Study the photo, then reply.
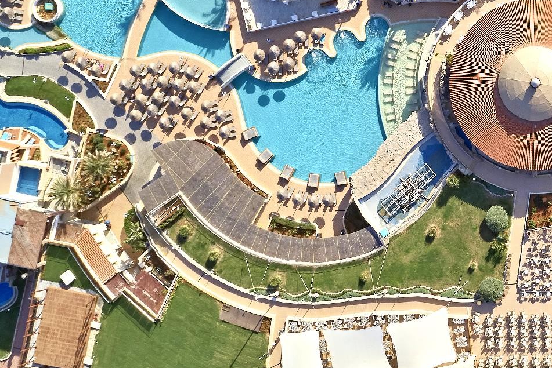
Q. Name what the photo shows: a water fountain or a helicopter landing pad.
water fountain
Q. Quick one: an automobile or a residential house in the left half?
residential house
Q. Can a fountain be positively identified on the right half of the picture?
Yes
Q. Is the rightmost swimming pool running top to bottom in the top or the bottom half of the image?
top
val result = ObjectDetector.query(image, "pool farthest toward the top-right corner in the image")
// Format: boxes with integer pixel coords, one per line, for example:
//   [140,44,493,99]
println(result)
[378,18,440,138]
